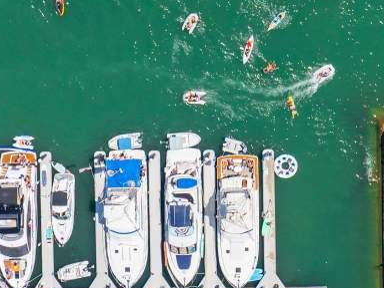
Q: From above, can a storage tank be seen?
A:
No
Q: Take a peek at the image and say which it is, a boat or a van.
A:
boat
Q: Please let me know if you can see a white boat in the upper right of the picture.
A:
Yes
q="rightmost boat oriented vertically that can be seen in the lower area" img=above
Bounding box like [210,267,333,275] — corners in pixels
[216,150,263,288]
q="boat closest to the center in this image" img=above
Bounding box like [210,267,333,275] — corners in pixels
[165,131,200,146]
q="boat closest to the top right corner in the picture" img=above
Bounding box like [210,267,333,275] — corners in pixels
[311,65,333,86]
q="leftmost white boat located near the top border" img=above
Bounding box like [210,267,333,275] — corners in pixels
[179,13,199,35]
